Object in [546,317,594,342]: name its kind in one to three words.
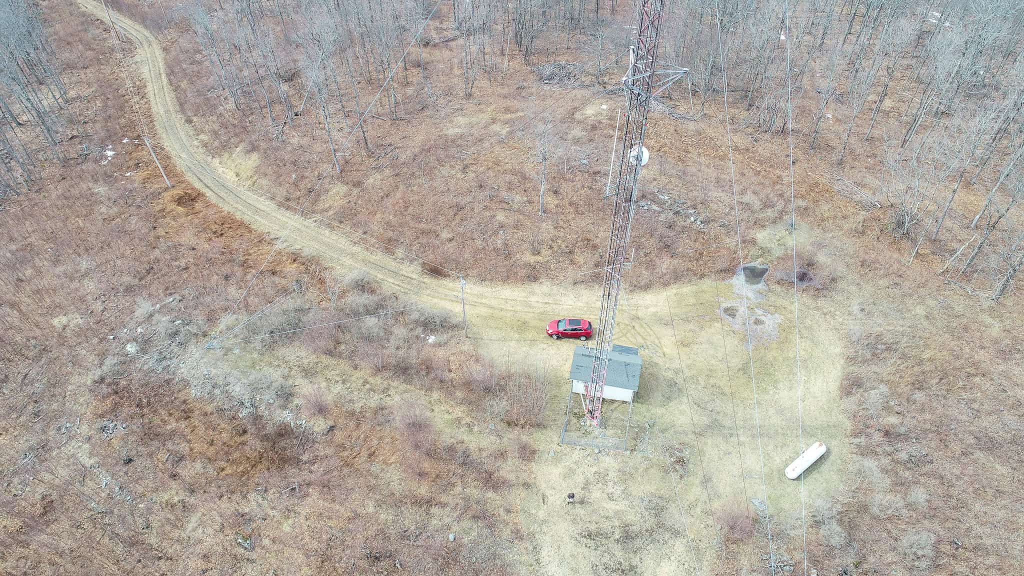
car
